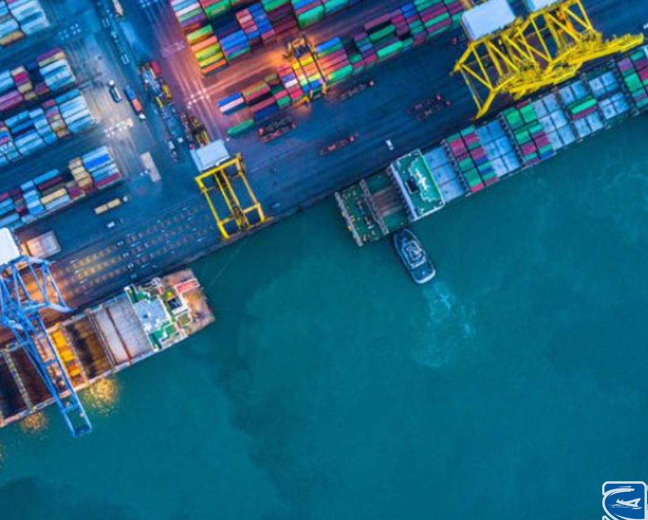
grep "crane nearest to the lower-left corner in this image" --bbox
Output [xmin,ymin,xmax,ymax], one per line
[0,226,97,444]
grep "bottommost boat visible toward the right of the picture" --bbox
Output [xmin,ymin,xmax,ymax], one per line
[397,230,435,286]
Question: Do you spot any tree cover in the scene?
No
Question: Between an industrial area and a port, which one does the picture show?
port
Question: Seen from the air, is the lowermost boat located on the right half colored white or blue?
blue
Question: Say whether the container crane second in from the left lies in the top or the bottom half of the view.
top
